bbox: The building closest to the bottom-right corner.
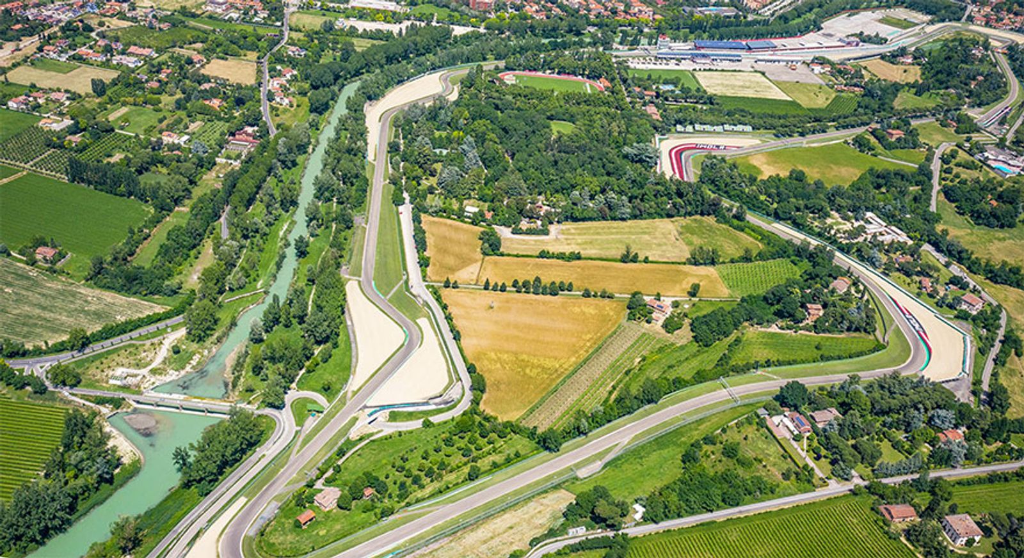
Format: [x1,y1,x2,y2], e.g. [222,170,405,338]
[944,514,983,545]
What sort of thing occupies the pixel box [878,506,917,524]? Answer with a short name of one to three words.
barn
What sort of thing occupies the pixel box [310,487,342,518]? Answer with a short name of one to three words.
house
